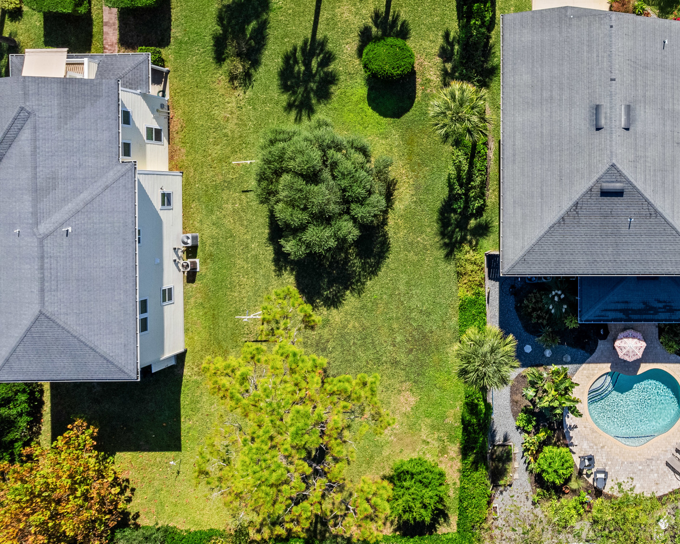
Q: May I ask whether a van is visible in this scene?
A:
No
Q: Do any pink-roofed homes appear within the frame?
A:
No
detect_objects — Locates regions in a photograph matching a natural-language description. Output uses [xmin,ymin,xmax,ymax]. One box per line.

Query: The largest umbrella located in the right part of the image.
[615,328,646,358]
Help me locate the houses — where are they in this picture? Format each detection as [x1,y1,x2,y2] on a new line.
[0,51,184,383]
[499,7,680,325]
